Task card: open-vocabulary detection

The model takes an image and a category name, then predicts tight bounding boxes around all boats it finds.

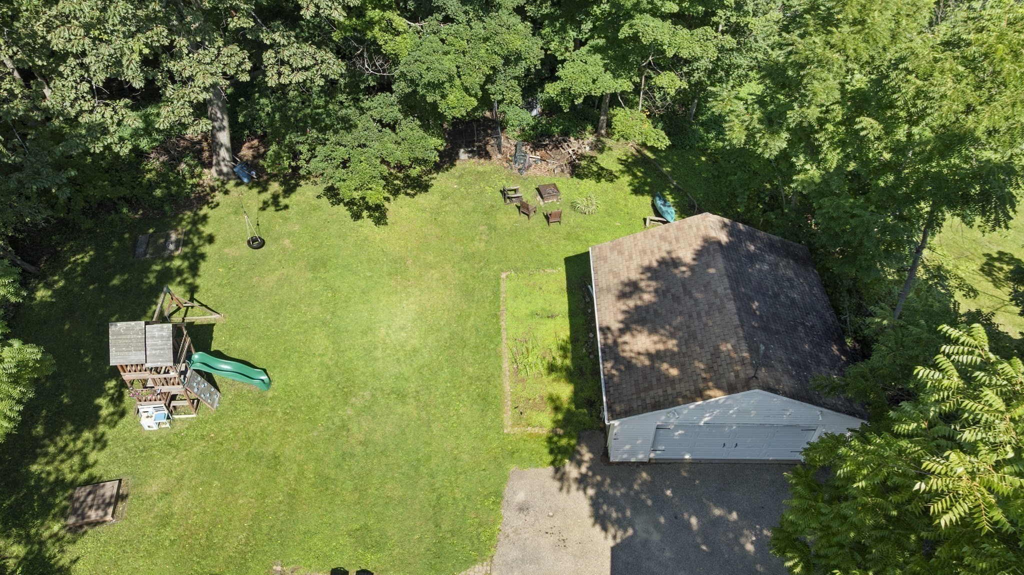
[655,191,675,223]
